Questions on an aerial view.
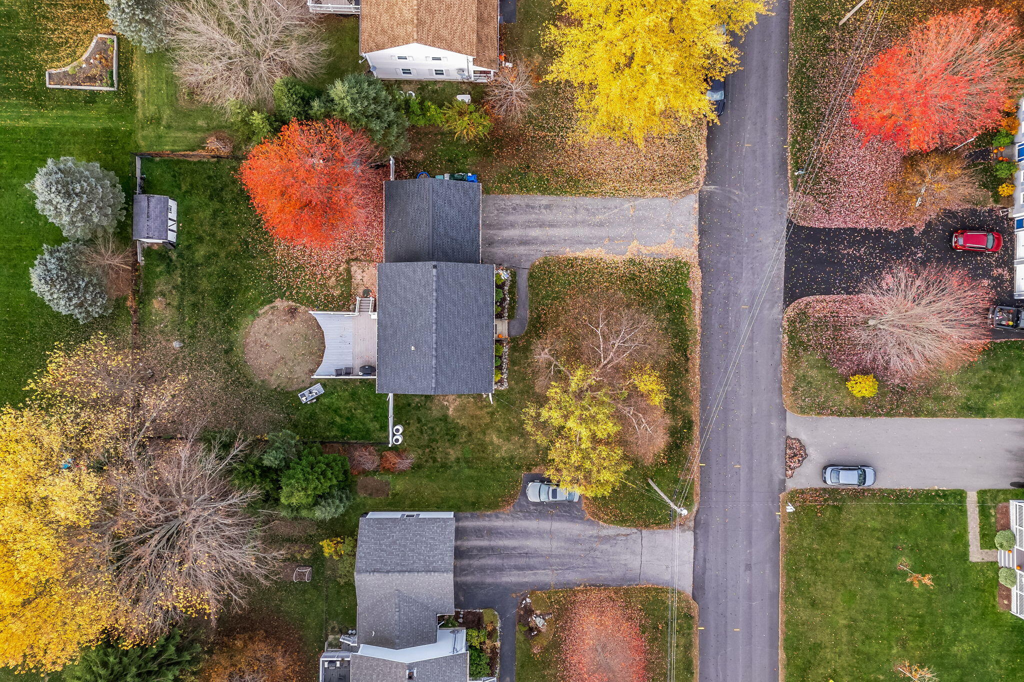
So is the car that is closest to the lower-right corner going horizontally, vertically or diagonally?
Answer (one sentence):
The car that is closest to the lower-right corner is laid out horizontally.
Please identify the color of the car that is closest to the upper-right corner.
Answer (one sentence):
The car that is closest to the upper-right corner is red.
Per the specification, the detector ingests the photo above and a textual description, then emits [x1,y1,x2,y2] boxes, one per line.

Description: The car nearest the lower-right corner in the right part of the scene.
[820,463,875,488]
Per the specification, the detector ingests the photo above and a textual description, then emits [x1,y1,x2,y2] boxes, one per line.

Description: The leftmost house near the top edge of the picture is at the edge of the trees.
[352,0,501,83]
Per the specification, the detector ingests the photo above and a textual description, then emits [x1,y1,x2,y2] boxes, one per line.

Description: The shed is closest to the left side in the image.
[135,194,181,253]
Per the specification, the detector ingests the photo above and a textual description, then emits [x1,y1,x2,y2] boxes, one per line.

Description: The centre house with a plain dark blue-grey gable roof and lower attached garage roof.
[374,178,508,404]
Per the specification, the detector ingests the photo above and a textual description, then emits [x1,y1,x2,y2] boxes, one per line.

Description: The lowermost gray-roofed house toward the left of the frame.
[349,512,470,682]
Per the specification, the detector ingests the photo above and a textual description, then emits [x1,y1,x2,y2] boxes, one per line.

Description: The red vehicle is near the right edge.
[947,229,1000,254]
